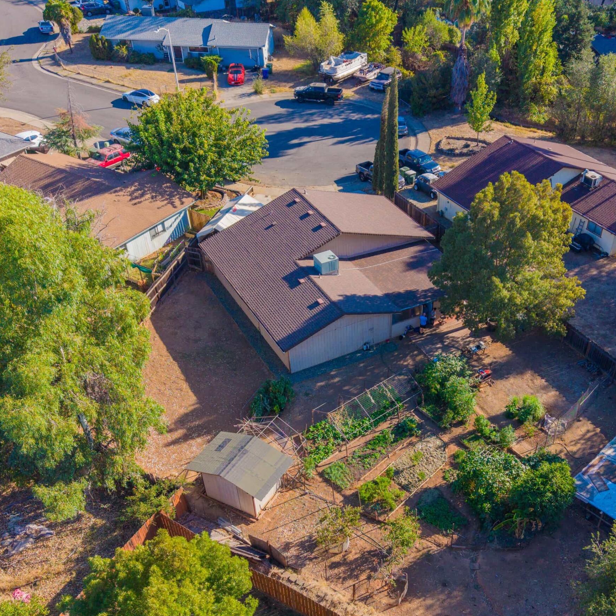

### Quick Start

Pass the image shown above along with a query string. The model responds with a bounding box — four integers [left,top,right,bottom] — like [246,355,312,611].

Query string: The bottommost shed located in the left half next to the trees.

[186,432,293,523]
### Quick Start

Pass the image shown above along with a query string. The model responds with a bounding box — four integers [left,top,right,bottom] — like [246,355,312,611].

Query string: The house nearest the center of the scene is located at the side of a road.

[197,187,468,373]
